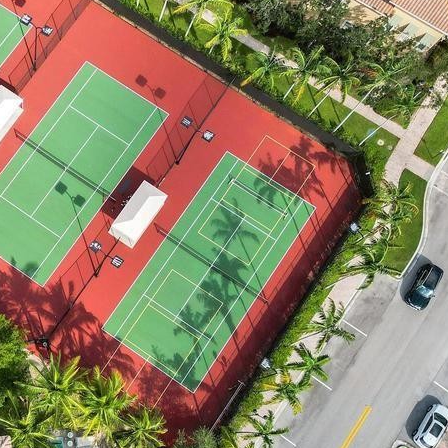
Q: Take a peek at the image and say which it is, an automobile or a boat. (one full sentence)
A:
Looking from above, you can make out an automobile.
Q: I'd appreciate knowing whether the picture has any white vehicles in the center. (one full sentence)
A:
No, no white vehicle appears in the center.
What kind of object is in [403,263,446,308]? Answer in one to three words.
car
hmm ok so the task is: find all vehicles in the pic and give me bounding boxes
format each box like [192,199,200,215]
[403,263,446,308]
[412,405,448,448]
